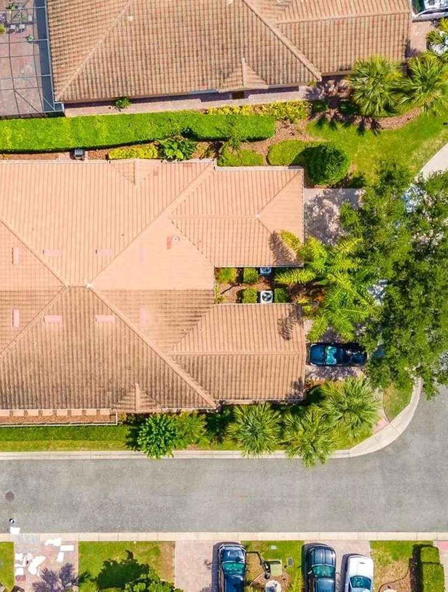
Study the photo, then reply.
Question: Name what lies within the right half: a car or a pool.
car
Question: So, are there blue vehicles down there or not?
Yes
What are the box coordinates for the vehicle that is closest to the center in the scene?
[309,343,365,367]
